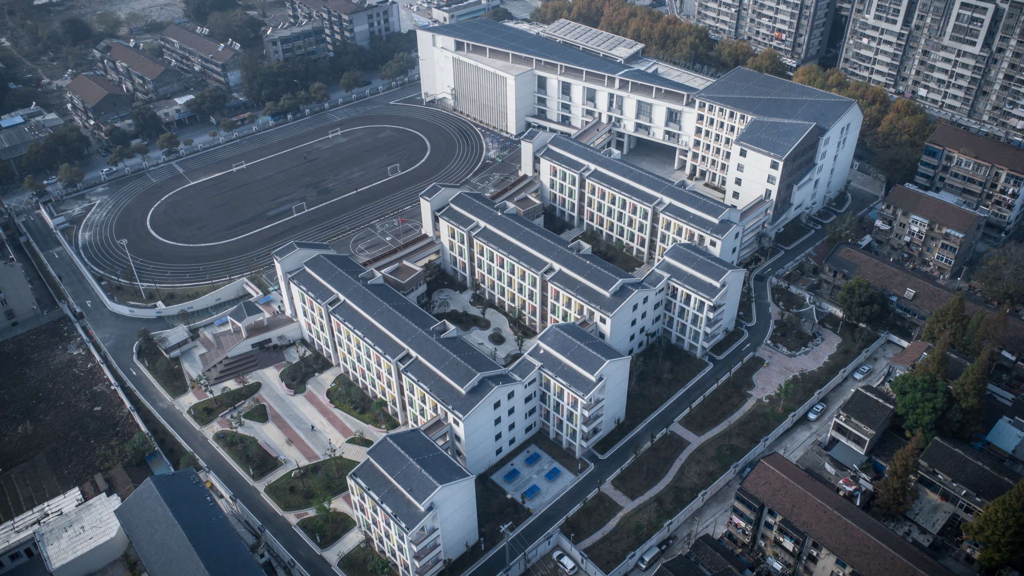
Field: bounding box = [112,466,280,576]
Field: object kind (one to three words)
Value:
house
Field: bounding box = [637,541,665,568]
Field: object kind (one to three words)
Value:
vehicle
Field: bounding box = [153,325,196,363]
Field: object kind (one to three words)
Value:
shed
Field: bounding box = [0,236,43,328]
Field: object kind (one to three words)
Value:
building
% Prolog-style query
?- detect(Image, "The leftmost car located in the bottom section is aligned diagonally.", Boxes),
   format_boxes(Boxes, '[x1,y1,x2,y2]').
[550,548,577,575]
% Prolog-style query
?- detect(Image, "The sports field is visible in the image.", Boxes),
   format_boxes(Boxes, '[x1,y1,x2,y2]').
[44,78,528,292]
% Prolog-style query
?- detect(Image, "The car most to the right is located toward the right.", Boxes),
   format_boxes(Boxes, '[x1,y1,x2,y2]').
[852,362,873,377]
